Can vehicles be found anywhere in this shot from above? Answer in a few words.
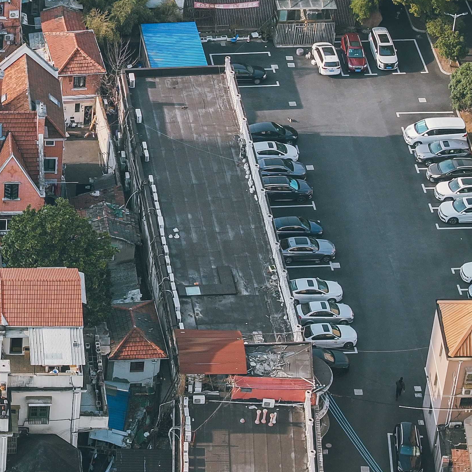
Yes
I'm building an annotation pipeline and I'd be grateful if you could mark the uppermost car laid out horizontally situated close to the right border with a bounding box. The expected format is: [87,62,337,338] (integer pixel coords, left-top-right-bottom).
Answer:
[404,118,466,146]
